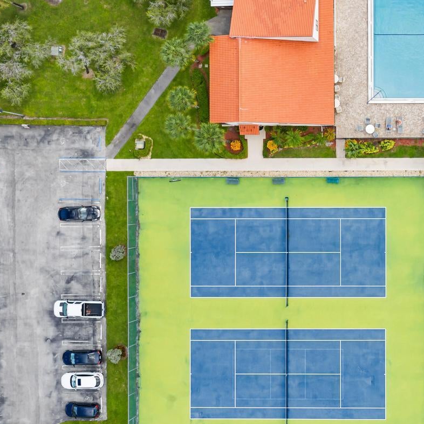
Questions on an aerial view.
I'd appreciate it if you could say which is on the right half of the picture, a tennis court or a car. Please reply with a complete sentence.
Visible on the right half of the picture is a tennis court.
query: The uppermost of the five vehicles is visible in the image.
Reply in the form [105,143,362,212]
[58,204,104,222]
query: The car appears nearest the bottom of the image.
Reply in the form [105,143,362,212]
[66,401,102,420]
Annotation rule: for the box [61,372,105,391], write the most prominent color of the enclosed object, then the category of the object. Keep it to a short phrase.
white car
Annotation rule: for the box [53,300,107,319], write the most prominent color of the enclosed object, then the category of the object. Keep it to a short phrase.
white vehicle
